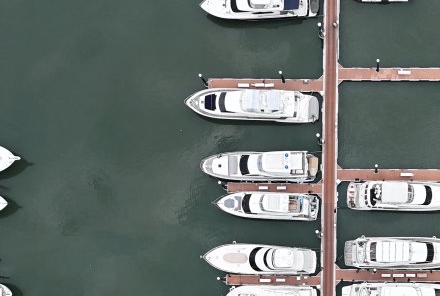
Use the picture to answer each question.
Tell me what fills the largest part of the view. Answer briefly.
water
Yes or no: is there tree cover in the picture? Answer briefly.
No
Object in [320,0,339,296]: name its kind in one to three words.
pier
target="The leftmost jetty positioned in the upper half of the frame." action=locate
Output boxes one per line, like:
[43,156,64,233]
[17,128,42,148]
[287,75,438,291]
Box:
[208,71,322,100]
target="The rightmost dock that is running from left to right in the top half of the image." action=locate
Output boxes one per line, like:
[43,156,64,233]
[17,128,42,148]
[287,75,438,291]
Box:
[338,59,440,90]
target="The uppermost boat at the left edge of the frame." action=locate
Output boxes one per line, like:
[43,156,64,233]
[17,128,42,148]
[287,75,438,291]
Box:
[0,147,21,171]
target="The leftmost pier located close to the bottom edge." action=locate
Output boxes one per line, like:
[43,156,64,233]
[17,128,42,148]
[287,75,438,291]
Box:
[225,267,320,295]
